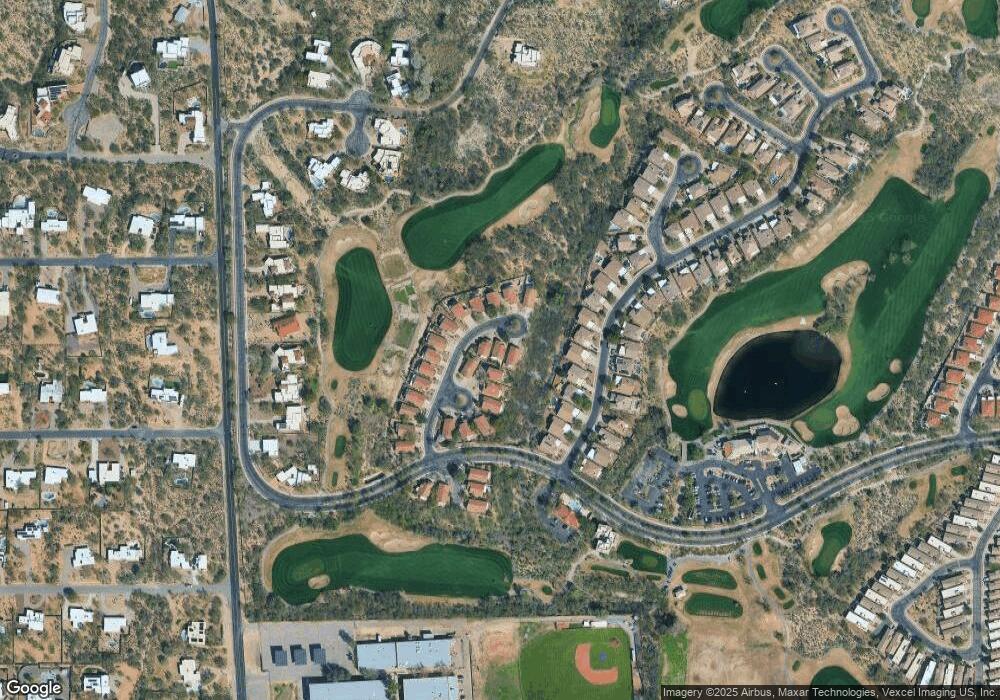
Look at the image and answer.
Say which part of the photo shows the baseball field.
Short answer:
bottom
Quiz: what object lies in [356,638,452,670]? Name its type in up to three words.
building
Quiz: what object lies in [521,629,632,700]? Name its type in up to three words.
baseball field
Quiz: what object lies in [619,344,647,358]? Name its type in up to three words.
house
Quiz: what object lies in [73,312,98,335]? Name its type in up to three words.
house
